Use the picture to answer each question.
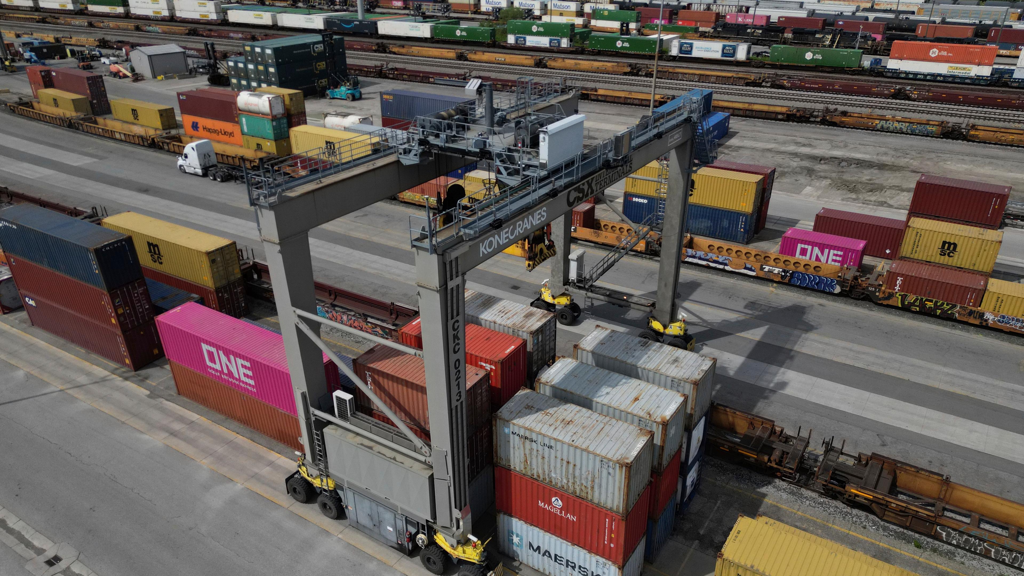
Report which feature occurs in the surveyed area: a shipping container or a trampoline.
shipping container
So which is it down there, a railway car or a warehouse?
railway car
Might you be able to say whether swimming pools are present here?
No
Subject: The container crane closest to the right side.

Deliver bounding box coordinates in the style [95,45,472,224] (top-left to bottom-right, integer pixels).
[221,69,728,576]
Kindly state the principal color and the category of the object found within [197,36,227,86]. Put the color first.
black work vehicle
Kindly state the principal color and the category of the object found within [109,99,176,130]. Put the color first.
yellow shipping container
